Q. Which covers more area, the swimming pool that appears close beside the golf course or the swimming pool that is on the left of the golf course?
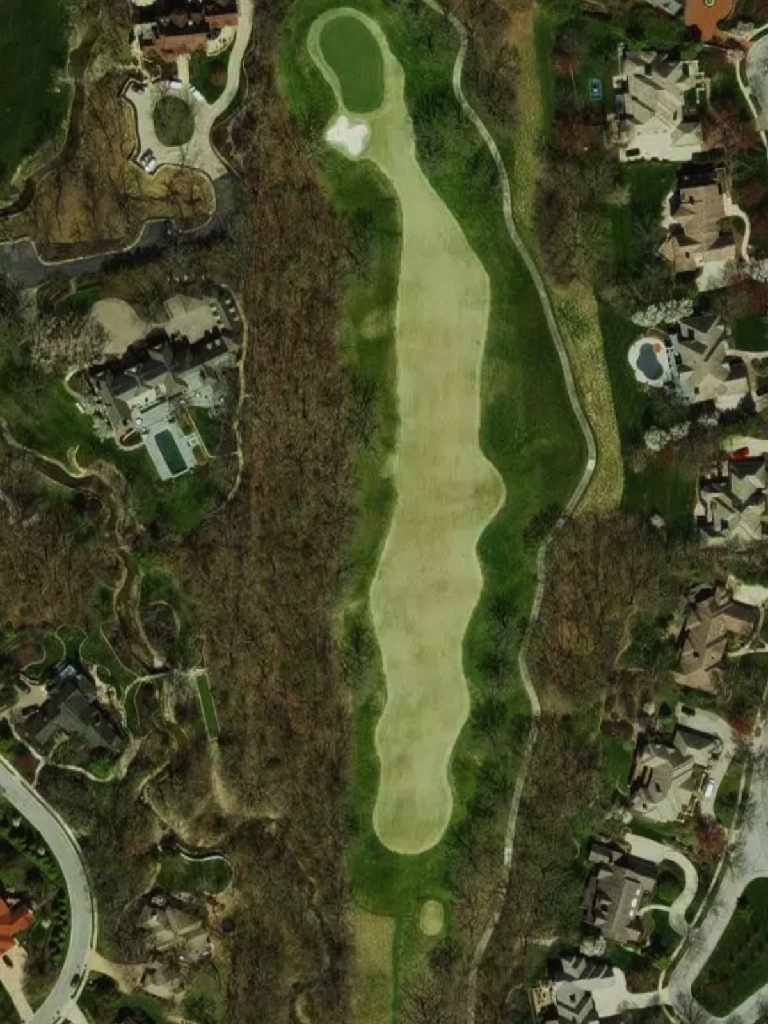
the swimming pool that appears close beside the golf course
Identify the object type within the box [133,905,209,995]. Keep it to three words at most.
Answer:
house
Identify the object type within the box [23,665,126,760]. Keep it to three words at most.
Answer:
house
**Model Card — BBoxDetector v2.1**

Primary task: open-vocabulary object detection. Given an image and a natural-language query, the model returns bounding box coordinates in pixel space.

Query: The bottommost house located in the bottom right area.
[533,957,617,1024]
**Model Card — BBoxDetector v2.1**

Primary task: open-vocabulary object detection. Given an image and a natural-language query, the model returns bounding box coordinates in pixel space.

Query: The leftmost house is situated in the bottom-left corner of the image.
[0,902,36,952]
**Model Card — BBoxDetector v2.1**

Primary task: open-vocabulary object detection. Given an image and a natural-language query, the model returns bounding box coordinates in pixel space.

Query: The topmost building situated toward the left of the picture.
[143,2,239,62]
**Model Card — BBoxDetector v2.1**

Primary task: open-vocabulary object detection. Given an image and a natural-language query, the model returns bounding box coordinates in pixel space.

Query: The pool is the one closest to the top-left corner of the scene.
[154,429,188,475]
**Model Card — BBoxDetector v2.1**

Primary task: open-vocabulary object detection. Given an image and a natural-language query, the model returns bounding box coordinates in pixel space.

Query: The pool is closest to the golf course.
[628,338,671,388]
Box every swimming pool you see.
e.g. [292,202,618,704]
[628,338,671,388]
[154,429,188,475]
